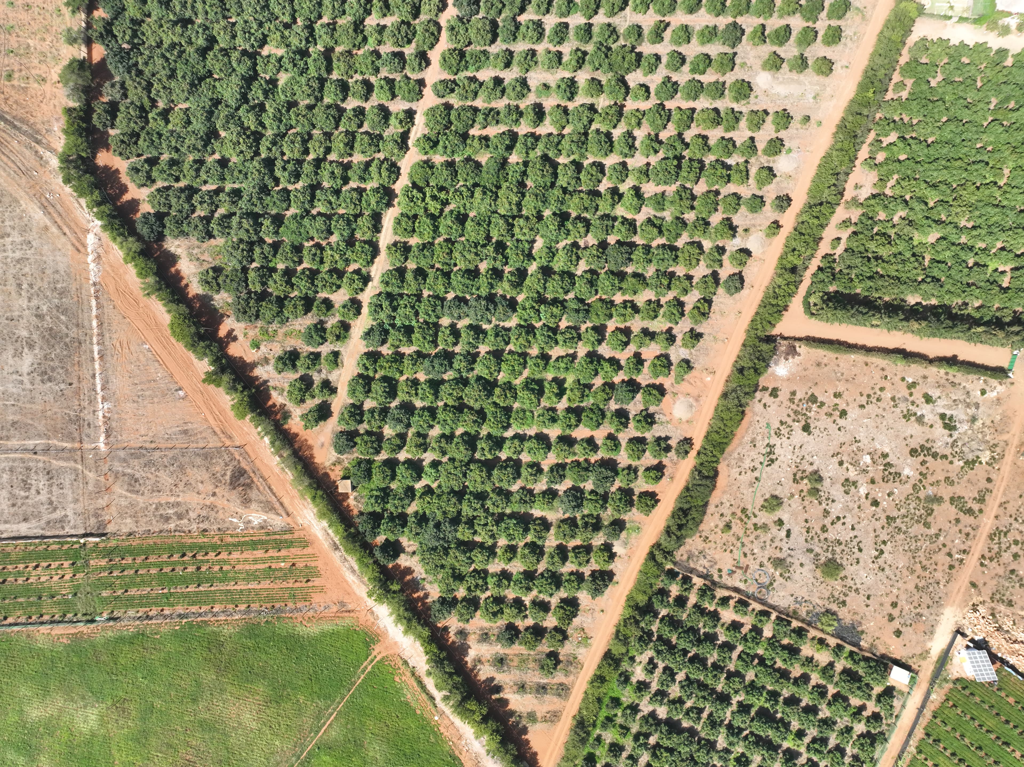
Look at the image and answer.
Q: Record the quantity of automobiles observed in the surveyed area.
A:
none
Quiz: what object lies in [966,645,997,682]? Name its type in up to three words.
solar array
